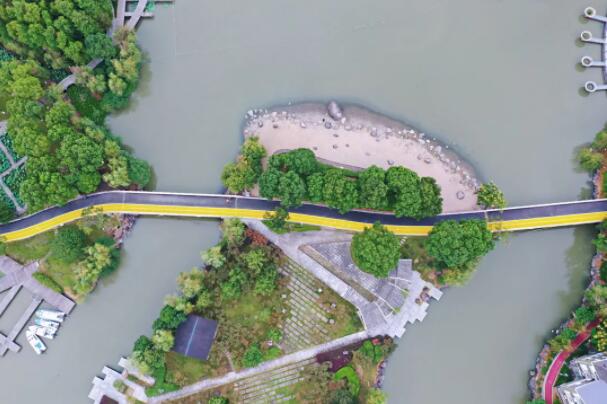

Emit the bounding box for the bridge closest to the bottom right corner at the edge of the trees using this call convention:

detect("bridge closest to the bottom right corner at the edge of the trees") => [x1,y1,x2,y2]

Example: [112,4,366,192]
[489,199,600,232]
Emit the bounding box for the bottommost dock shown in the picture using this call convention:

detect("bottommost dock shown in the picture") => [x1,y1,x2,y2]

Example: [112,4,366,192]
[0,256,76,360]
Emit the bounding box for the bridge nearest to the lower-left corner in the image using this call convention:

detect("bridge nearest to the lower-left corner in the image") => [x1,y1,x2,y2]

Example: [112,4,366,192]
[147,191,222,219]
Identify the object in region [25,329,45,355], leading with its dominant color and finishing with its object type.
white boat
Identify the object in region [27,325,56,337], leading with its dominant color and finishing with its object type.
white boat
